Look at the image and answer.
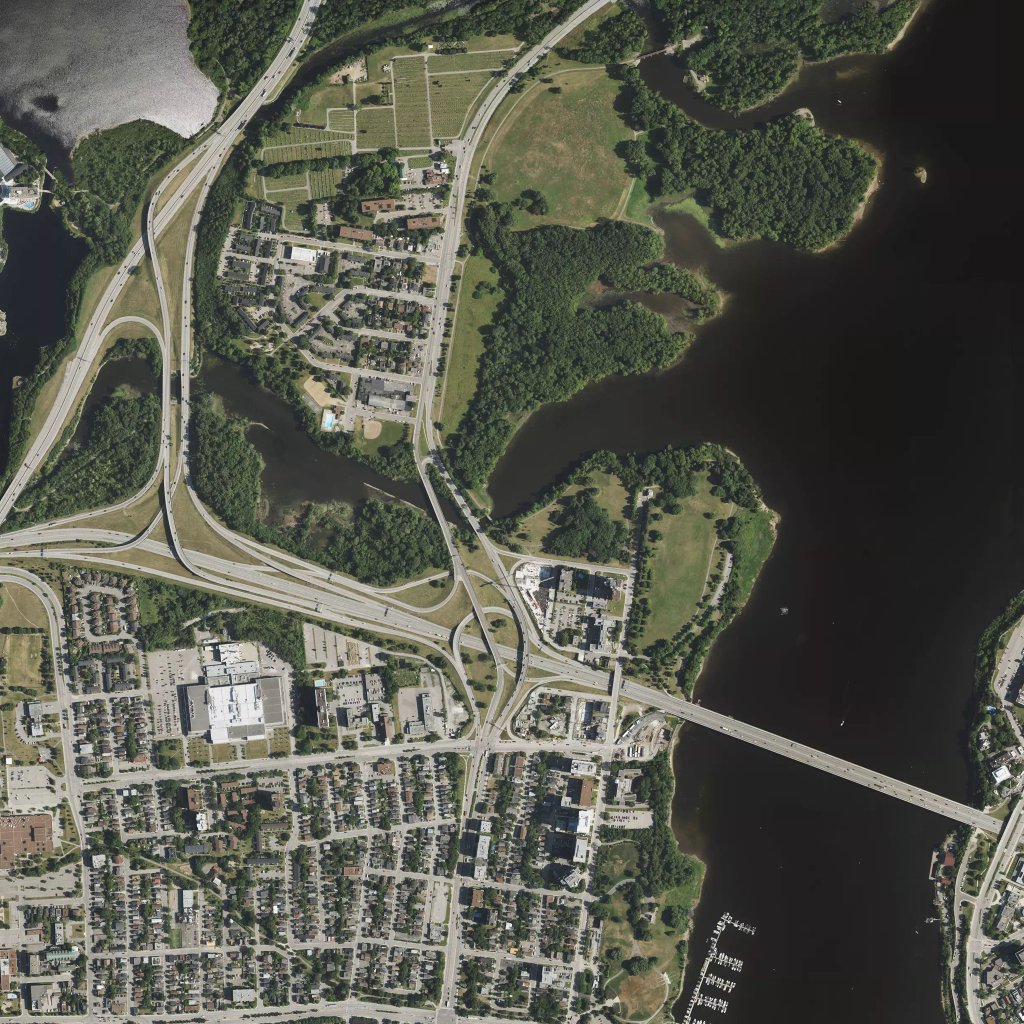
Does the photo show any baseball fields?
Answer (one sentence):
Yes, there's a baseball field down there.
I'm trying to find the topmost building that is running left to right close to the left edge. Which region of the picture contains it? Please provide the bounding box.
[8,185,39,198]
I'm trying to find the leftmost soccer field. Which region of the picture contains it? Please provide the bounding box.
[7,633,42,686]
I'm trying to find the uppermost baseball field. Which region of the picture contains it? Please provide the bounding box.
[355,418,412,453]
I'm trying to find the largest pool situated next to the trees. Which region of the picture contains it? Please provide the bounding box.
[321,409,336,432]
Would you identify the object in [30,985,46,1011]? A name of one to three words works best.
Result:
building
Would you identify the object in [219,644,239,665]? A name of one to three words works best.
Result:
building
